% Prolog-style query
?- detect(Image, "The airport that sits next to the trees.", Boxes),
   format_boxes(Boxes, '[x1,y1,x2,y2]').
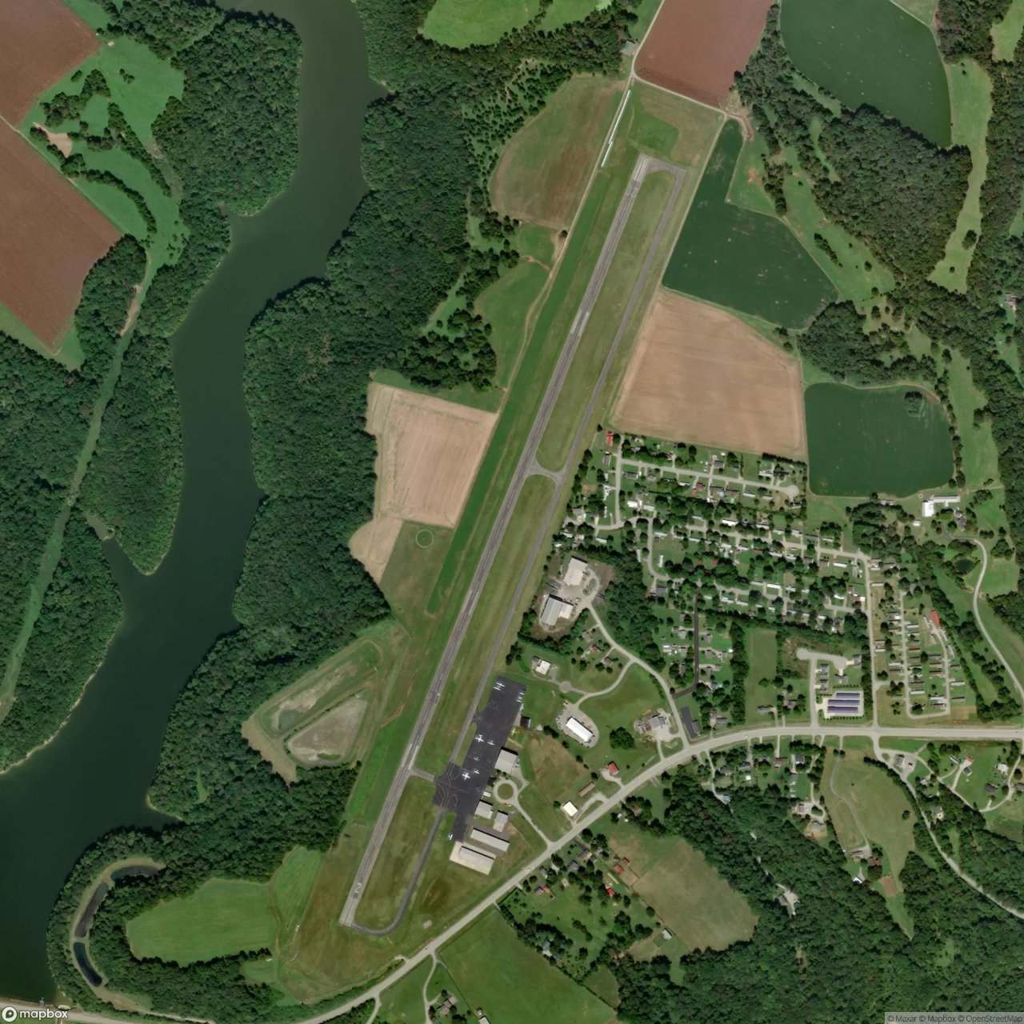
[339,153,685,935]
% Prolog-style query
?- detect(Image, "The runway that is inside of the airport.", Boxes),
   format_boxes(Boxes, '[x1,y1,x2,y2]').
[339,153,653,926]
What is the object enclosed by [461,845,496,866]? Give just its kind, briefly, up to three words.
hangar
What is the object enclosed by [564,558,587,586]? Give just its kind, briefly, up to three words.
building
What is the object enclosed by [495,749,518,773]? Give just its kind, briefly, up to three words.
hangar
